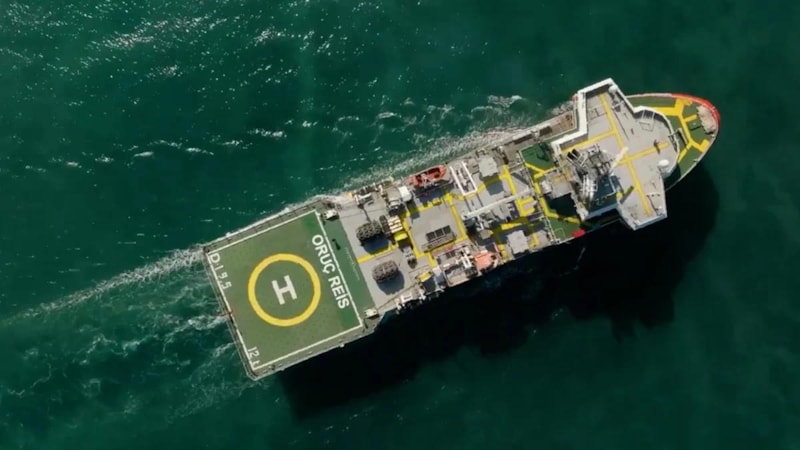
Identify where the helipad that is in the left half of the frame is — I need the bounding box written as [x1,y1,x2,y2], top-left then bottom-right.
[198,197,375,378]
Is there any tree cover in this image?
No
